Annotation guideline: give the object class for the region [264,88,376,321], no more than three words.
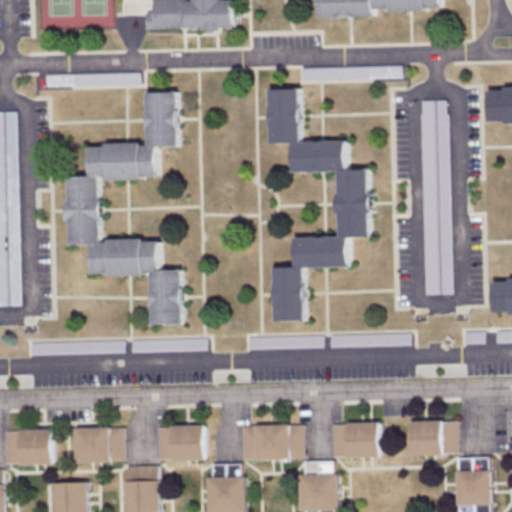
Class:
building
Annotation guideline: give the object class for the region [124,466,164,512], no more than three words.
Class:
house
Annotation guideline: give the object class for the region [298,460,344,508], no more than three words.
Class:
house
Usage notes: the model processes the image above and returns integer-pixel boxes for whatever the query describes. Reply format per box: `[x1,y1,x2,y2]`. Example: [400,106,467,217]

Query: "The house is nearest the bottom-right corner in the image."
[456,456,495,512]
